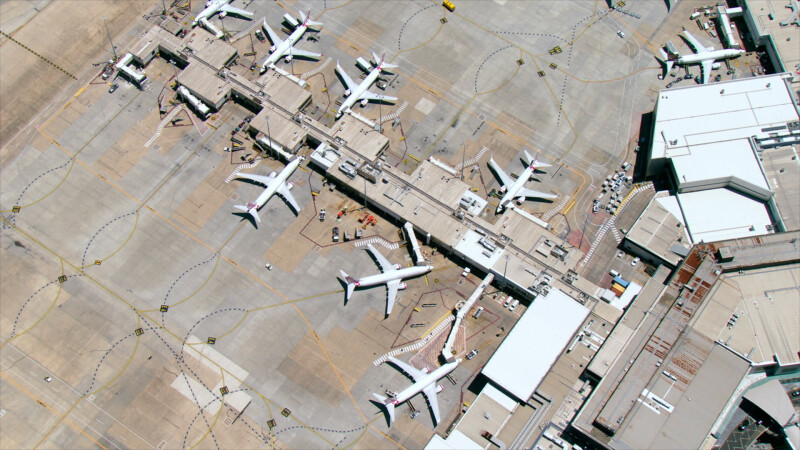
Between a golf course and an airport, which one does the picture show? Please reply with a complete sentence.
This looks like an airport.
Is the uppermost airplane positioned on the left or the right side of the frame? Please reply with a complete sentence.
It is on the left.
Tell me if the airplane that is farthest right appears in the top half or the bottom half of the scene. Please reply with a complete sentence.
Seen from above, the airplane that is farthest right lies in the top half of the view.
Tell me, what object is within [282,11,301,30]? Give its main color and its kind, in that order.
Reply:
white vehicle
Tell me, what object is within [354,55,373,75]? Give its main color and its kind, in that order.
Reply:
white vehicle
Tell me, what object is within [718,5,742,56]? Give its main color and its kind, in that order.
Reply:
white jet bridge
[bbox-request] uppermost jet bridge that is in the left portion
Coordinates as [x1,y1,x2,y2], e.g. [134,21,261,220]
[192,14,226,44]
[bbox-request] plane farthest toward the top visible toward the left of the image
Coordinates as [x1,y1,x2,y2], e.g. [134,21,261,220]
[191,0,254,26]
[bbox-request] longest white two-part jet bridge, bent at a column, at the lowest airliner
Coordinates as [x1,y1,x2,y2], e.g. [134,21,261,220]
[444,273,495,364]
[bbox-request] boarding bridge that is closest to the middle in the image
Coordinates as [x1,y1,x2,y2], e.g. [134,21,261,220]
[405,222,426,271]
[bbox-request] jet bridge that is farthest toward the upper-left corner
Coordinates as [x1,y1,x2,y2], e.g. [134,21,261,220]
[114,50,152,89]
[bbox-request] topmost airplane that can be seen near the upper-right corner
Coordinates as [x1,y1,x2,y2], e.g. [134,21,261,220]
[663,27,744,83]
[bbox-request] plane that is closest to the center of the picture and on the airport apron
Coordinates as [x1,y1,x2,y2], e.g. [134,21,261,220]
[341,242,433,313]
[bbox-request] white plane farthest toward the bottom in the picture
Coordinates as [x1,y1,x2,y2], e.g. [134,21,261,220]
[374,356,461,423]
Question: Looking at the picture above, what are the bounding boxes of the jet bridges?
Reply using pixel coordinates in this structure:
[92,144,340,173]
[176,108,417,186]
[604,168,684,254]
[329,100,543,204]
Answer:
[114,50,152,89]
[499,197,552,230]
[255,133,301,170]
[340,104,381,134]
[405,222,426,271]
[177,84,216,122]
[718,5,742,56]
[265,60,306,91]
[192,14,226,44]
[420,153,461,181]
[444,273,495,364]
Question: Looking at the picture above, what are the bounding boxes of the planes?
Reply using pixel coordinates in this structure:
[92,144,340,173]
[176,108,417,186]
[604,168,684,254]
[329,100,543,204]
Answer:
[374,356,461,423]
[663,27,744,83]
[236,158,304,222]
[491,150,558,212]
[259,9,323,73]
[191,0,254,26]
[335,51,398,117]
[341,242,433,313]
